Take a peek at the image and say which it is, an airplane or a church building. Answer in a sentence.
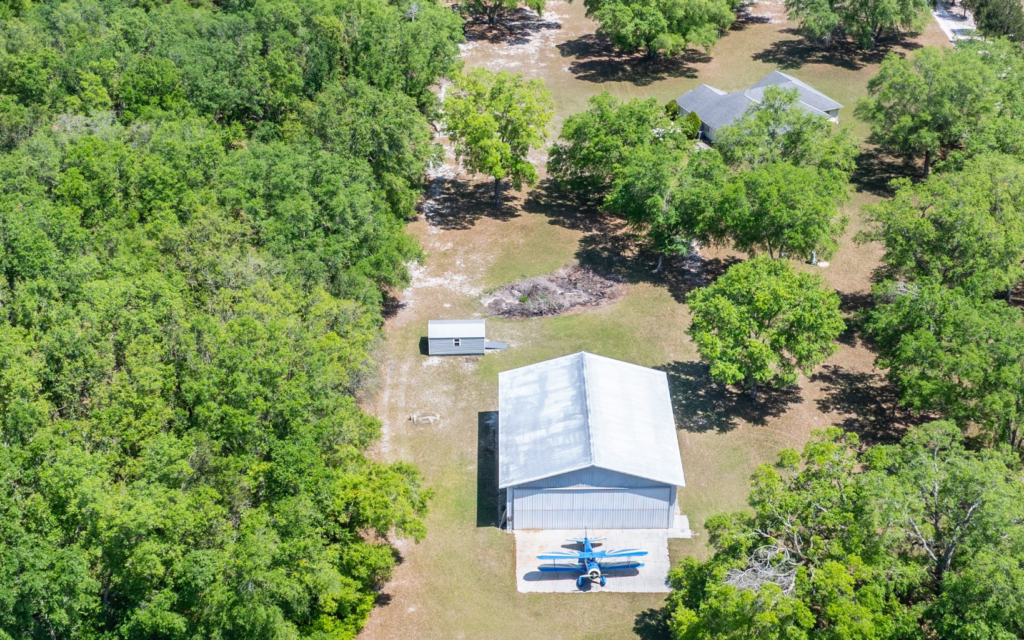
There is an airplane in the scene.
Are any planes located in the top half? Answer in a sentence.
No, there is no plane in the top half.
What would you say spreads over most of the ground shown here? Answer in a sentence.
The largest share of the image is taken up by trees.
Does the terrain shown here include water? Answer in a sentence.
No, water can't be seen anywhere here.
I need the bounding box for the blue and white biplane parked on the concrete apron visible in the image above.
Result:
[536,524,648,585]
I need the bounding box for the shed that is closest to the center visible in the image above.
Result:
[428,321,507,354]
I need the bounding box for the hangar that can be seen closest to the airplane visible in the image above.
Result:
[498,351,685,530]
